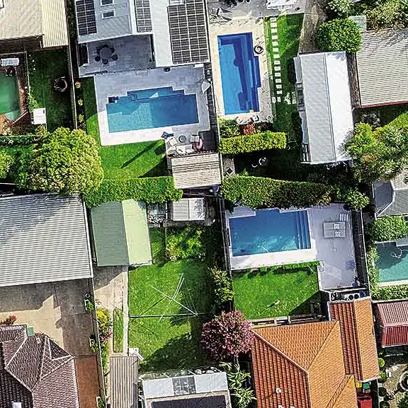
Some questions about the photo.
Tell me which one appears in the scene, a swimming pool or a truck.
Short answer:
swimming pool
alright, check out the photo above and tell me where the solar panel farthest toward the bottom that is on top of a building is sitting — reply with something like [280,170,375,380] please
[154,395,224,408]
